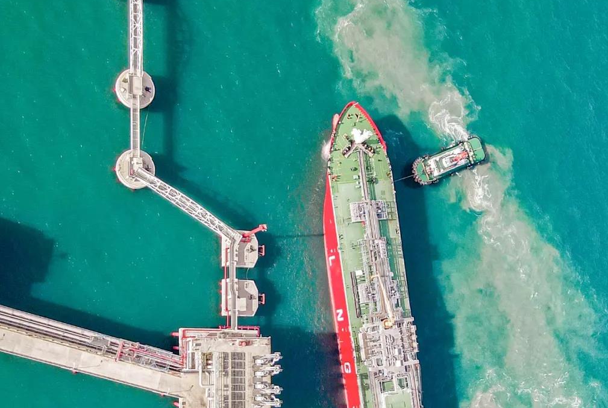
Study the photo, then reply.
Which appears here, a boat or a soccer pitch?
boat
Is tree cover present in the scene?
No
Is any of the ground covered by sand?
No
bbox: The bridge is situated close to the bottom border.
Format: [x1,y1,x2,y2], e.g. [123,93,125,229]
[0,323,182,397]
